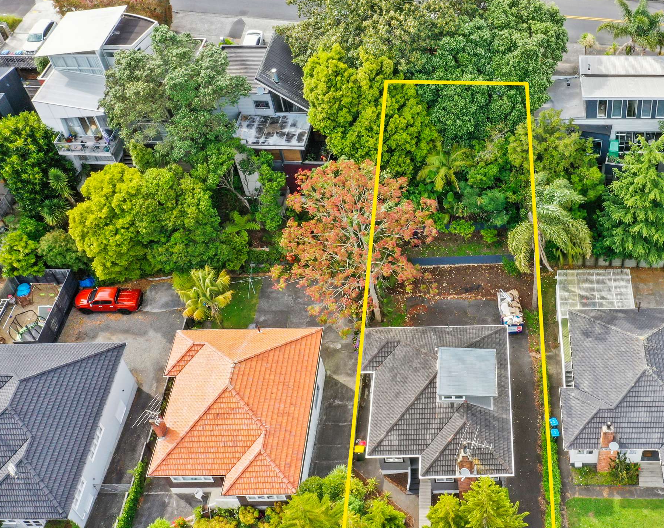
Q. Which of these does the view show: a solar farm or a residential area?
residential area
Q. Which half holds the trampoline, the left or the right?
left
